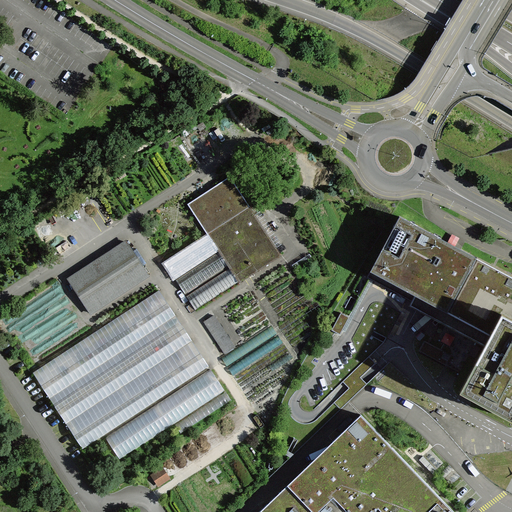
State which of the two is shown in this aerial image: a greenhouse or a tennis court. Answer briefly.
greenhouse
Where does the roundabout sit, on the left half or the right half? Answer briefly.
right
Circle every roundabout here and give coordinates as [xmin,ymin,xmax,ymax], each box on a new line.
[356,114,436,194]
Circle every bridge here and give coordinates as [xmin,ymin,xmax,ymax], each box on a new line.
[362,0,512,132]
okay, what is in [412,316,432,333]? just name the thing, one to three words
vehicle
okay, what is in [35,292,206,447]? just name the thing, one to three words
greenhouse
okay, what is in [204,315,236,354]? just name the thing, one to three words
shed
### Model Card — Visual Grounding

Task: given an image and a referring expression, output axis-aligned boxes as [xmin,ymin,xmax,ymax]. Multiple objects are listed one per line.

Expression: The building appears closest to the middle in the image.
[208,208,281,282]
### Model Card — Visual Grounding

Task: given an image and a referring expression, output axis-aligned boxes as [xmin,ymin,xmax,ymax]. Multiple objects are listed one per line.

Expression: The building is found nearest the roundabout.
[370,218,476,312]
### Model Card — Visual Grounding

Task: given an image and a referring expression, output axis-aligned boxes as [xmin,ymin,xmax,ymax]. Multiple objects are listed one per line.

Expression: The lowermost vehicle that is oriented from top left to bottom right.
[464,459,478,476]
